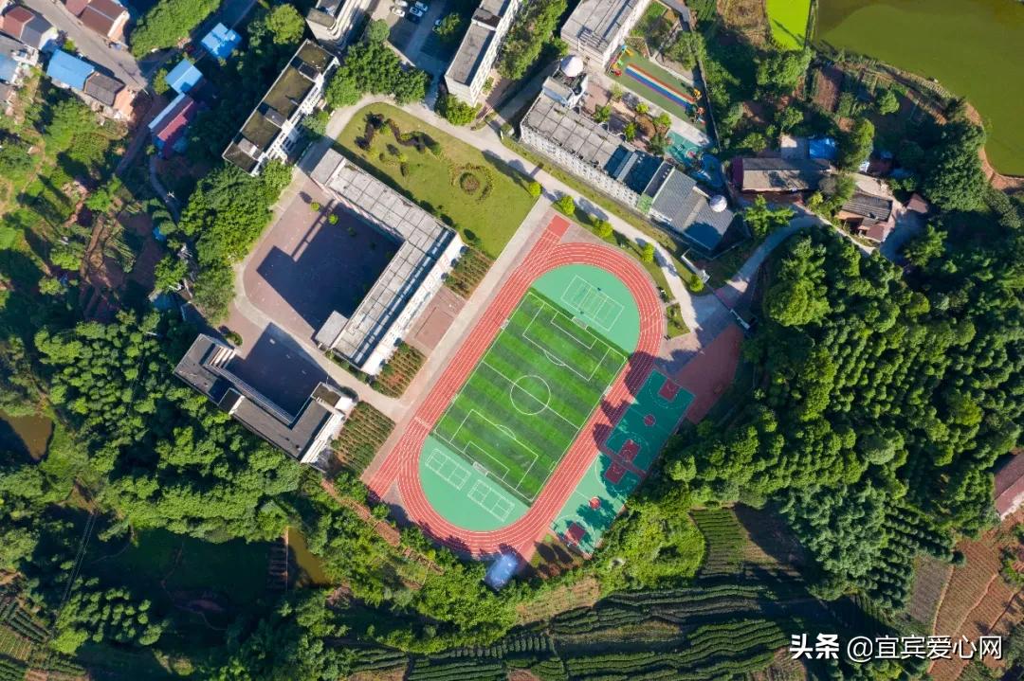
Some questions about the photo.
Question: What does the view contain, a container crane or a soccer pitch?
soccer pitch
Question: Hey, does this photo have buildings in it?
Yes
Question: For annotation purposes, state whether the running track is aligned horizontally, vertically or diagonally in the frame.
diagonally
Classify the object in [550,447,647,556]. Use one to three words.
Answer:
basketball court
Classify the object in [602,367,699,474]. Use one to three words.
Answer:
basketball court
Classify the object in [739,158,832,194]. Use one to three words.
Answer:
house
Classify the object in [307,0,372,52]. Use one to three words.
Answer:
building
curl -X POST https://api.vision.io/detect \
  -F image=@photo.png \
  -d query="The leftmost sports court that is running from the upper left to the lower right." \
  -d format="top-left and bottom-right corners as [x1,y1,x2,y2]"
[424,448,472,490]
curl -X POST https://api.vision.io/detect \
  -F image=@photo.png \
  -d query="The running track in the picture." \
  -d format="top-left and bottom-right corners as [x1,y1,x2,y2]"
[366,215,661,563]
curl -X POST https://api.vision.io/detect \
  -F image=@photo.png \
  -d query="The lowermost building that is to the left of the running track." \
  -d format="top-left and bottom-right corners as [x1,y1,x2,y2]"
[172,334,360,462]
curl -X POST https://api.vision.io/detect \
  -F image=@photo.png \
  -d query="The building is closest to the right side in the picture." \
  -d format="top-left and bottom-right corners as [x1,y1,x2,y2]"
[992,453,1024,514]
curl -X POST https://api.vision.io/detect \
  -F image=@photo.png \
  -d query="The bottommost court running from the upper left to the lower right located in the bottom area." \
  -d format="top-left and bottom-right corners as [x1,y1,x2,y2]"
[467,478,515,521]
